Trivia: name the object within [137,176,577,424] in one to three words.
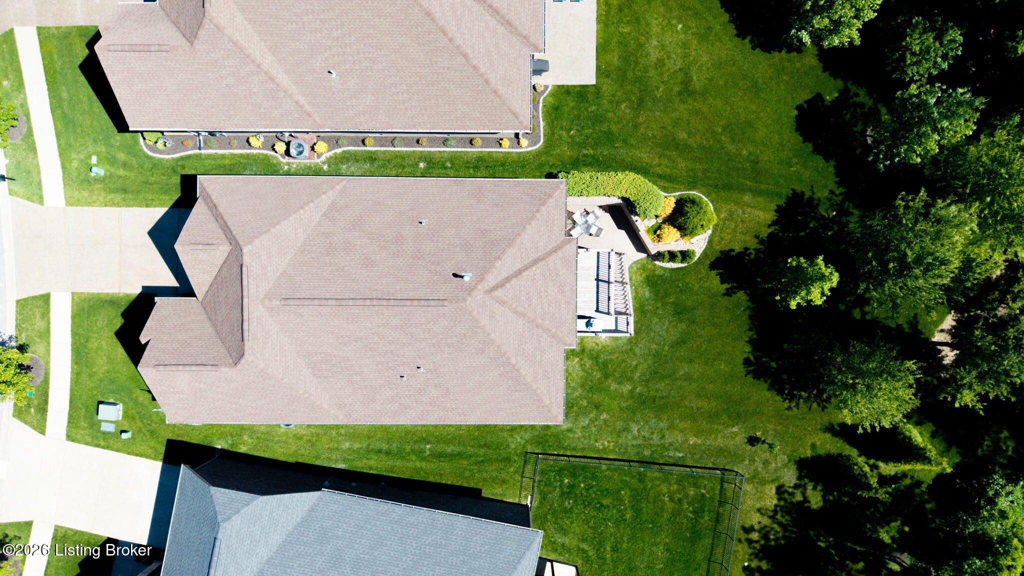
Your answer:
house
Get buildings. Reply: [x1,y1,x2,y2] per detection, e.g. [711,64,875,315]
[137,176,577,424]
[99,0,541,136]
[138,443,543,576]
